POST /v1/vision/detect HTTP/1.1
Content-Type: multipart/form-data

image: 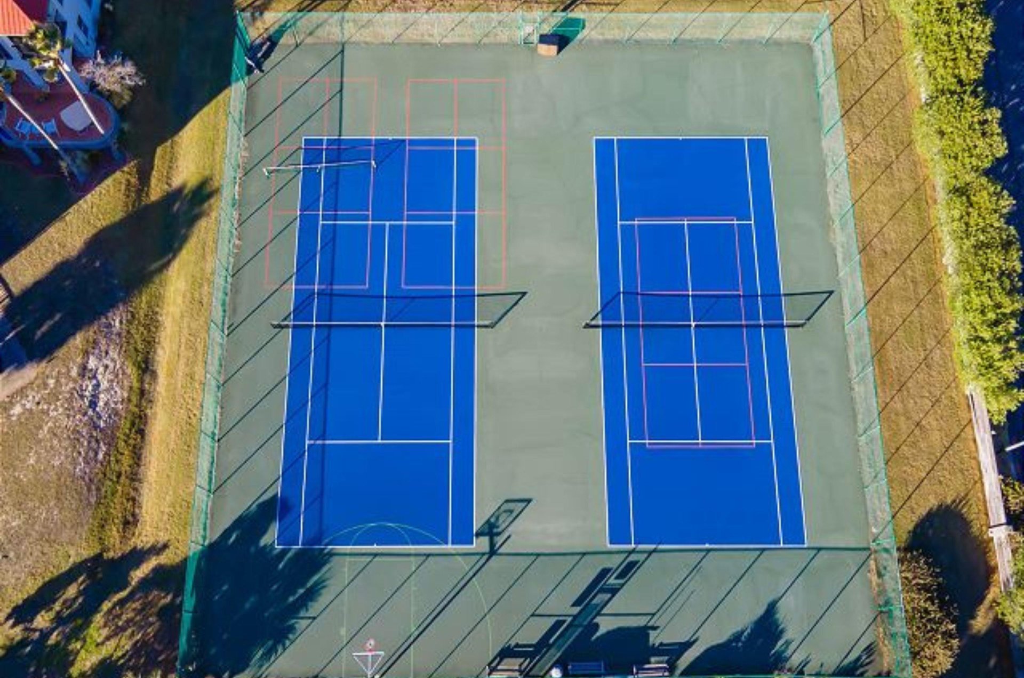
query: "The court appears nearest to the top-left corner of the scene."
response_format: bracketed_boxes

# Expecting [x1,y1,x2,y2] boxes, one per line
[264,78,377,288]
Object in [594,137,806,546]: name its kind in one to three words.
tennis court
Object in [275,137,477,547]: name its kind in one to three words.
tennis court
